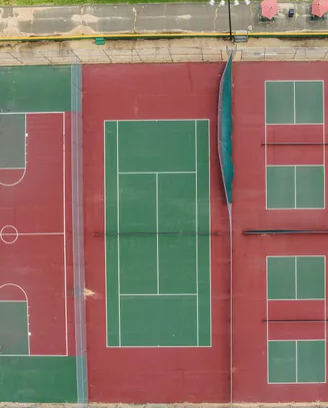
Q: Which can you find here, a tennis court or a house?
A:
tennis court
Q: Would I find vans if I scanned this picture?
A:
No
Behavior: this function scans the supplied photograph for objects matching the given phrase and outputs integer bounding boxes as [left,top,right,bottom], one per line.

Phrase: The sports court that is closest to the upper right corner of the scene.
[265,80,324,209]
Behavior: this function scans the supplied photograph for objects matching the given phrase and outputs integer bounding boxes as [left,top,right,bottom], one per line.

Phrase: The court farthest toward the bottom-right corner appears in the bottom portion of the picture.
[266,256,326,384]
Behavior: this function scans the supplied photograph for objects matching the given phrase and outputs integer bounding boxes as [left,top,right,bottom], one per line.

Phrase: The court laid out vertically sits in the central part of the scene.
[81,62,232,403]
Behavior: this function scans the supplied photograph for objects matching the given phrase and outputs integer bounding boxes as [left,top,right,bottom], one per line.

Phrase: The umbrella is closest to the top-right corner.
[309,0,328,18]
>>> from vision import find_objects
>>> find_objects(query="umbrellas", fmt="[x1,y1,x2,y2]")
[309,0,328,18]
[259,0,279,20]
